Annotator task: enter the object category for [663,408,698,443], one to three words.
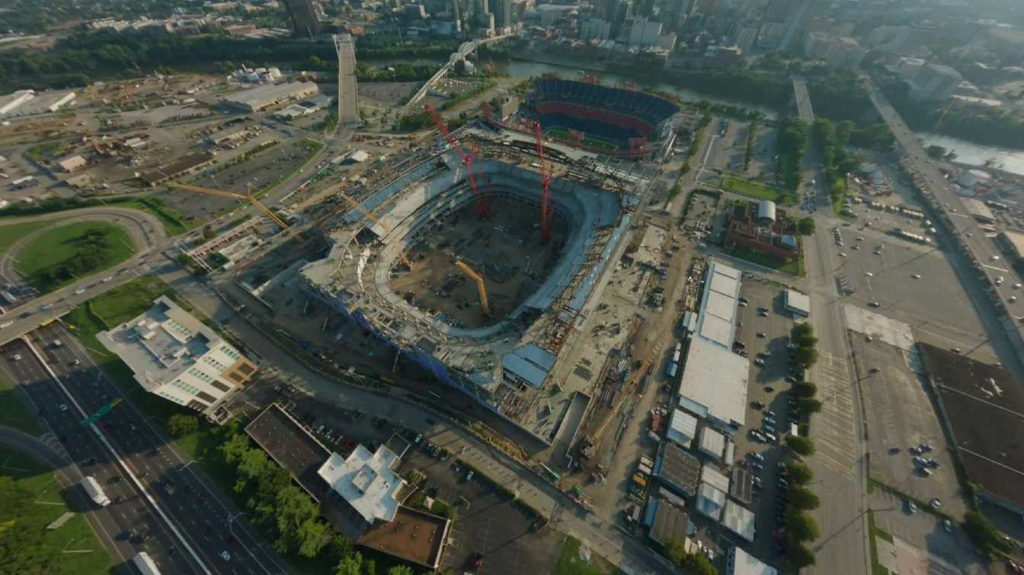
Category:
building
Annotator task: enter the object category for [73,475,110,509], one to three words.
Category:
truck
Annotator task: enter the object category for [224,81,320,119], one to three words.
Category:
building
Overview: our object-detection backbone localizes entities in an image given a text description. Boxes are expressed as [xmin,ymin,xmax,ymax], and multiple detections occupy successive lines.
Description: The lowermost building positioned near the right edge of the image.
[905,342,1024,521]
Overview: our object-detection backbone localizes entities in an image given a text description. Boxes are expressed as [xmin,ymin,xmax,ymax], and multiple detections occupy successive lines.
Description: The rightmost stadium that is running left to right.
[482,74,681,164]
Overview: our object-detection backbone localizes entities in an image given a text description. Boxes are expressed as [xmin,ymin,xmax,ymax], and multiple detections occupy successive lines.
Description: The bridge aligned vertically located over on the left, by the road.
[325,24,359,120]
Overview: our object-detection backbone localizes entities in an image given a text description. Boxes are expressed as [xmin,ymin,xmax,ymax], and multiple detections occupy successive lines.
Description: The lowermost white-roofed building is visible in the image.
[720,547,777,575]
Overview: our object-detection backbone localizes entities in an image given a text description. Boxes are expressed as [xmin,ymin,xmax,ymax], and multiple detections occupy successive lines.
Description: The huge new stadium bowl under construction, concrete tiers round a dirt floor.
[297,150,636,447]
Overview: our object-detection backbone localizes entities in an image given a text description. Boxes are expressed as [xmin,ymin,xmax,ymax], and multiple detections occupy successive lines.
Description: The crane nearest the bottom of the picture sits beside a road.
[579,362,651,458]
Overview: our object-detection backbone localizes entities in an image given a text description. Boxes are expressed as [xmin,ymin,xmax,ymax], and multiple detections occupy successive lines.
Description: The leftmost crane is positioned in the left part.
[169,180,294,236]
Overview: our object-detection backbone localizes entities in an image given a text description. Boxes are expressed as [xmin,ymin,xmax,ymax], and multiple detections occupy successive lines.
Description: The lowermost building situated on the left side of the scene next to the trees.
[355,506,453,569]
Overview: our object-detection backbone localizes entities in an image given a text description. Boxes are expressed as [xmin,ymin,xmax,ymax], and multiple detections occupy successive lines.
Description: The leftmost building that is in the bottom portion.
[96,293,260,424]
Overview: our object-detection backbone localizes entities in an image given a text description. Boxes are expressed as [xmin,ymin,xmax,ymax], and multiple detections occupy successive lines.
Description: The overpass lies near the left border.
[0,280,94,346]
